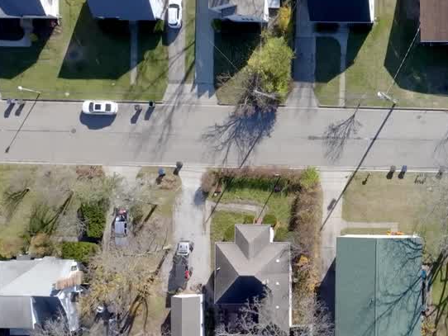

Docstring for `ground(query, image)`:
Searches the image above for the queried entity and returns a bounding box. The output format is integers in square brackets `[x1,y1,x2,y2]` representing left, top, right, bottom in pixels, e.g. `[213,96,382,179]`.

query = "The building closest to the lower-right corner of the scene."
[335,237,423,336]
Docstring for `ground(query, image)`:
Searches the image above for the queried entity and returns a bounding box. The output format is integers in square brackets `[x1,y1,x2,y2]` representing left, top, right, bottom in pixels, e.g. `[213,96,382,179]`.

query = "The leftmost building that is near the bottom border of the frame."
[0,254,85,336]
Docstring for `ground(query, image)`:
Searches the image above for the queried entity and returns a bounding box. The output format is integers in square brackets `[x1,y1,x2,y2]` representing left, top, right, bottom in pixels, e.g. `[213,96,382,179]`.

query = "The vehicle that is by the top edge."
[167,0,185,31]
